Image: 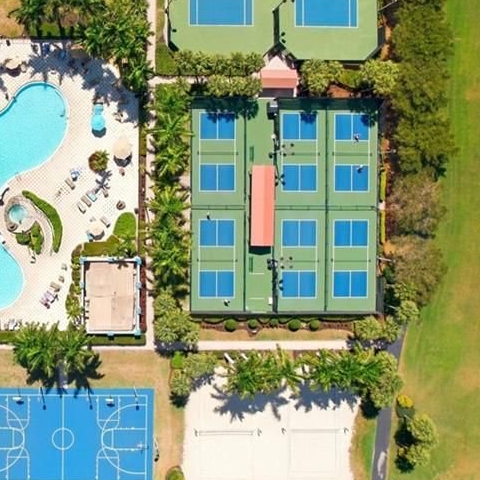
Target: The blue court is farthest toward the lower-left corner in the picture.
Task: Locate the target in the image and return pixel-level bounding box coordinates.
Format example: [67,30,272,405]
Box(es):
[0,388,154,480]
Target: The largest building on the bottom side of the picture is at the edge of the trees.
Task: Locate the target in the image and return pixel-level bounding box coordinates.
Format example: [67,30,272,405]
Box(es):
[81,256,142,336]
